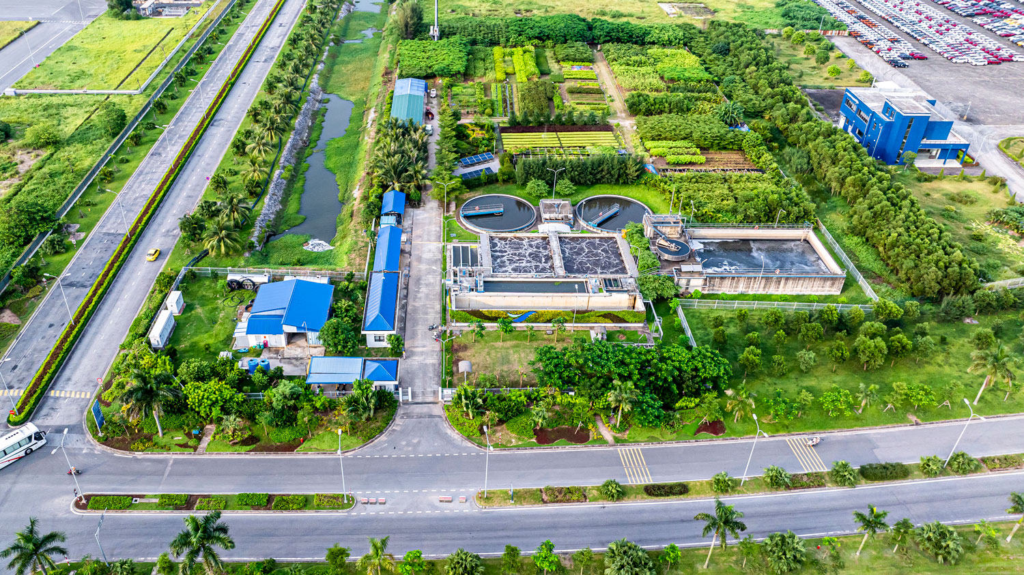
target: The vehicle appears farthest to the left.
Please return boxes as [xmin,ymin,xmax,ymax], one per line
[0,419,48,465]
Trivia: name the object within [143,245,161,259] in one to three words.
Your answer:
car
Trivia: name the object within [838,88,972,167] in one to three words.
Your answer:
building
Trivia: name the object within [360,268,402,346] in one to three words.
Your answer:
house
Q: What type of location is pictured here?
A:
industrial area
